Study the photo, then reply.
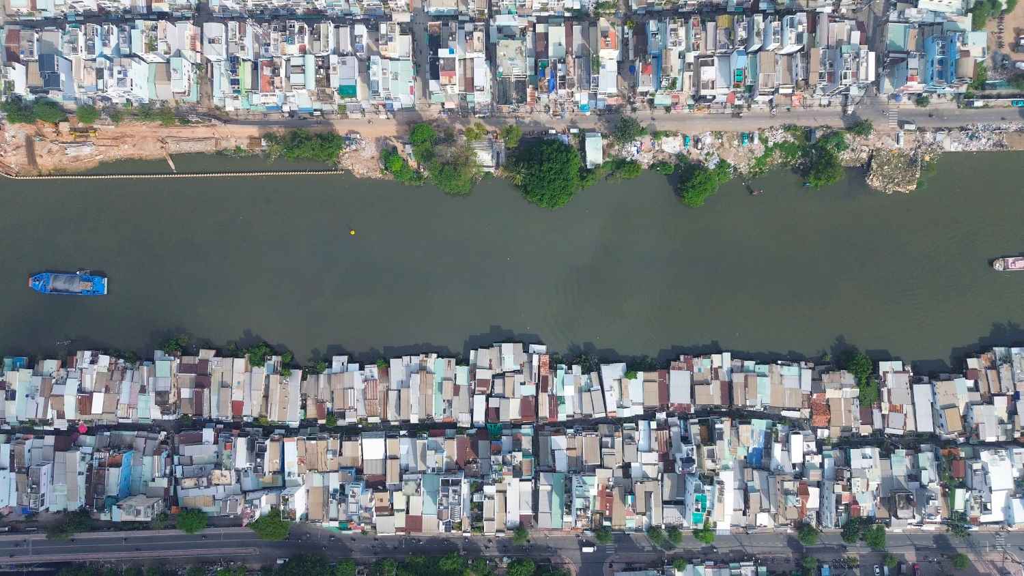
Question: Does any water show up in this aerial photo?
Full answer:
Yes, water shows up in the scene.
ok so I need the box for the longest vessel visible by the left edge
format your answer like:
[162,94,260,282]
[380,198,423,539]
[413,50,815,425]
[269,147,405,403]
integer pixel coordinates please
[27,272,110,295]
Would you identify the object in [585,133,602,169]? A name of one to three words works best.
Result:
shed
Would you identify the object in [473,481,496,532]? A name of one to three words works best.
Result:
house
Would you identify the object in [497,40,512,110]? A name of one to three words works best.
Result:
house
